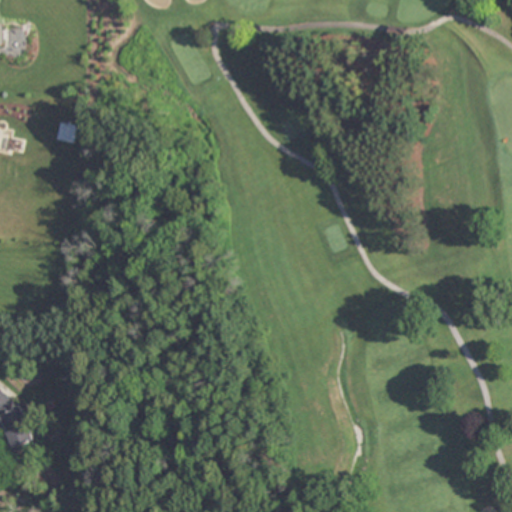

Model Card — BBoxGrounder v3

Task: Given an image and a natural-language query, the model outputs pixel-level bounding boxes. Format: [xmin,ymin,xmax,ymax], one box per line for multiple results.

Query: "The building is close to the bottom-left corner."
[4,432,32,450]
